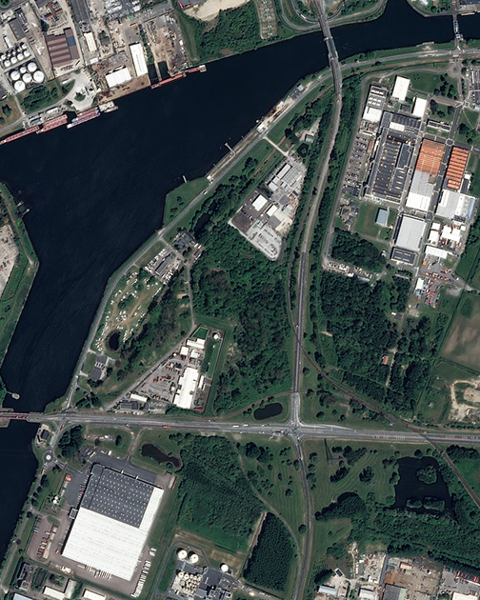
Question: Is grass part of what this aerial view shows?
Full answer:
Yes, grass shows up in the scene.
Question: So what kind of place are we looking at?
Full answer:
What you see here is a port.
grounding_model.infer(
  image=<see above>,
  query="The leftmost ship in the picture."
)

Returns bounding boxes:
[0,126,40,144]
